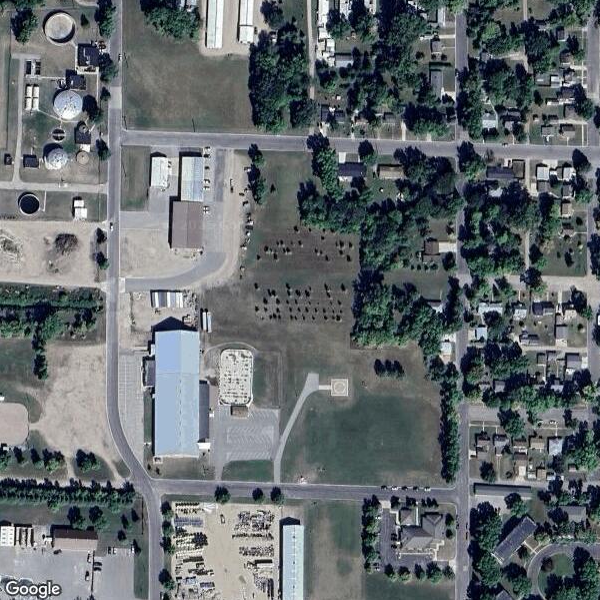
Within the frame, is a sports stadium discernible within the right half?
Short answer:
No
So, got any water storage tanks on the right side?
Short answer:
No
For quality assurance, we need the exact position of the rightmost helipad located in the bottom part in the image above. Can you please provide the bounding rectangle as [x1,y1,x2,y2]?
[331,379,349,397]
